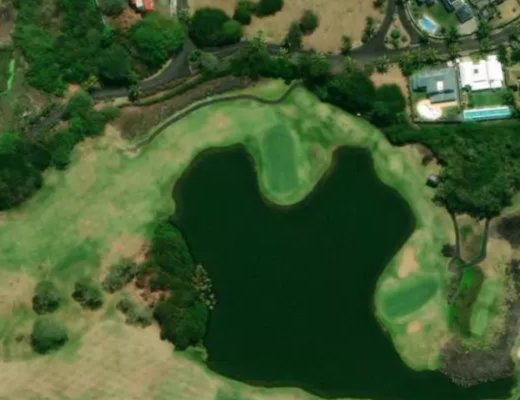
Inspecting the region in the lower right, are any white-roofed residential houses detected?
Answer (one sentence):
No, looking in the lower right, there is no white-roofed residential house.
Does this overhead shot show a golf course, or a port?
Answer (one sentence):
It's a golf course.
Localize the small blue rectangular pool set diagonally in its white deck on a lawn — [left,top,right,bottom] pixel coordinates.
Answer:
[419,15,440,34]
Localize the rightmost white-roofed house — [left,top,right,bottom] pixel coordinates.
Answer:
[460,54,504,90]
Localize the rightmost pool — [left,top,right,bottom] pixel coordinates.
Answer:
[463,107,510,122]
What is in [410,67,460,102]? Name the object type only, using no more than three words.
house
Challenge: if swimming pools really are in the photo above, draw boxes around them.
[419,15,440,34]
[463,107,510,122]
